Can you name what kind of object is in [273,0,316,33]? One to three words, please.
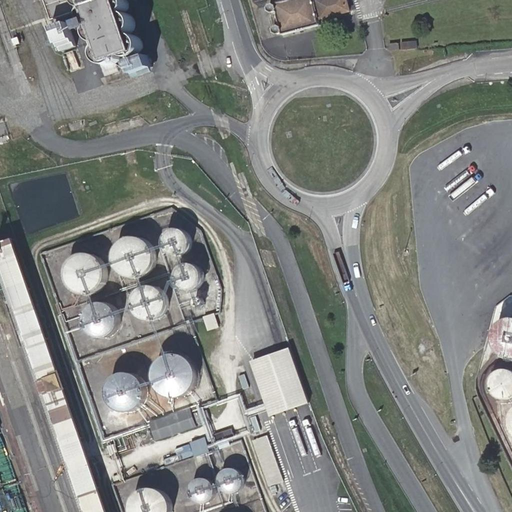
house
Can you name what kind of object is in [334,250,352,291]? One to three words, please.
vehicle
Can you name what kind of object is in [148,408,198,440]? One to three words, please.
shed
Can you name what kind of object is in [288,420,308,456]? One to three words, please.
vehicle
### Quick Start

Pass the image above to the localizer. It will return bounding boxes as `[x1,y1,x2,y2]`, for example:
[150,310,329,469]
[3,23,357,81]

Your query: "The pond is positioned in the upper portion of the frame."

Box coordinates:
[10,172,82,237]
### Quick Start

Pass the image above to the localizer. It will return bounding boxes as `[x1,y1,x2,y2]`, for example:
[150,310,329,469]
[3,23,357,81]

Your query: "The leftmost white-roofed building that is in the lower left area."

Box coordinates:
[0,238,110,512]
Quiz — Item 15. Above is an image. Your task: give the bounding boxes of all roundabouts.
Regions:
[248,65,399,221]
